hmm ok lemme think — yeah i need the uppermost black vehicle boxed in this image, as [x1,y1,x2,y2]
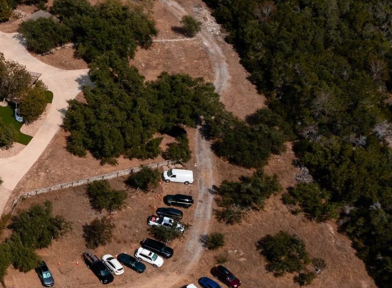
[164,194,195,208]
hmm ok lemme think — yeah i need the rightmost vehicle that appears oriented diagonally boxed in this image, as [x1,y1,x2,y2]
[210,263,242,288]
